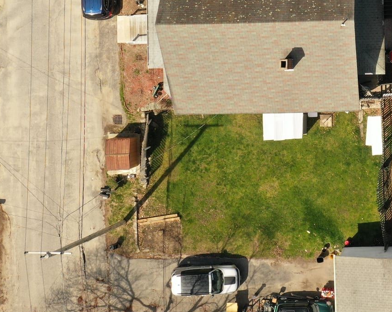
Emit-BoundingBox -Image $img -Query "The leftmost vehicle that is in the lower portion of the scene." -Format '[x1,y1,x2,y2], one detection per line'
[171,263,242,299]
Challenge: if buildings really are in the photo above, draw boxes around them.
[105,130,145,177]
[155,0,362,115]
[333,247,392,312]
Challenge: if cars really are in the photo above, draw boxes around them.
[83,0,120,19]
[275,295,334,312]
[171,263,242,299]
